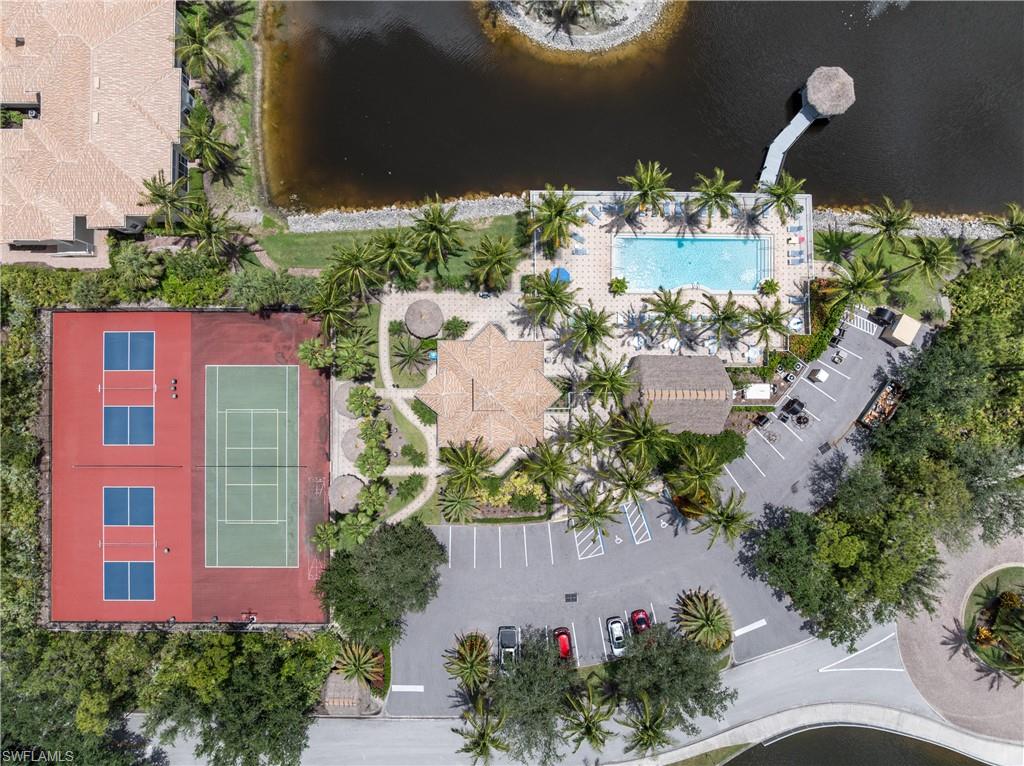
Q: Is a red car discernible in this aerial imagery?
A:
Yes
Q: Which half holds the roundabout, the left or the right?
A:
right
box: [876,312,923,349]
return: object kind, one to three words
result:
shed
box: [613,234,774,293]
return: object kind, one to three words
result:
swimming pool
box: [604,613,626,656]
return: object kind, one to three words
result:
car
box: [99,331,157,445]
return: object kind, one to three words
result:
sports court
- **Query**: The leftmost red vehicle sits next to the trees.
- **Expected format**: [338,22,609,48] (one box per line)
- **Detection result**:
[553,622,573,662]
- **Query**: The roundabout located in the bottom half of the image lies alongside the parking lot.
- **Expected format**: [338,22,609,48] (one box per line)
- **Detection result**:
[897,504,1024,744]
